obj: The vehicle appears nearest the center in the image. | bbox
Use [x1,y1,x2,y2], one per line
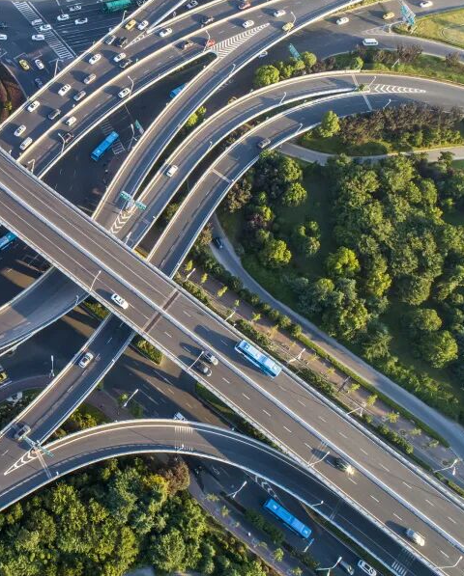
[211,234,223,251]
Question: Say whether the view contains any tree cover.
Yes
